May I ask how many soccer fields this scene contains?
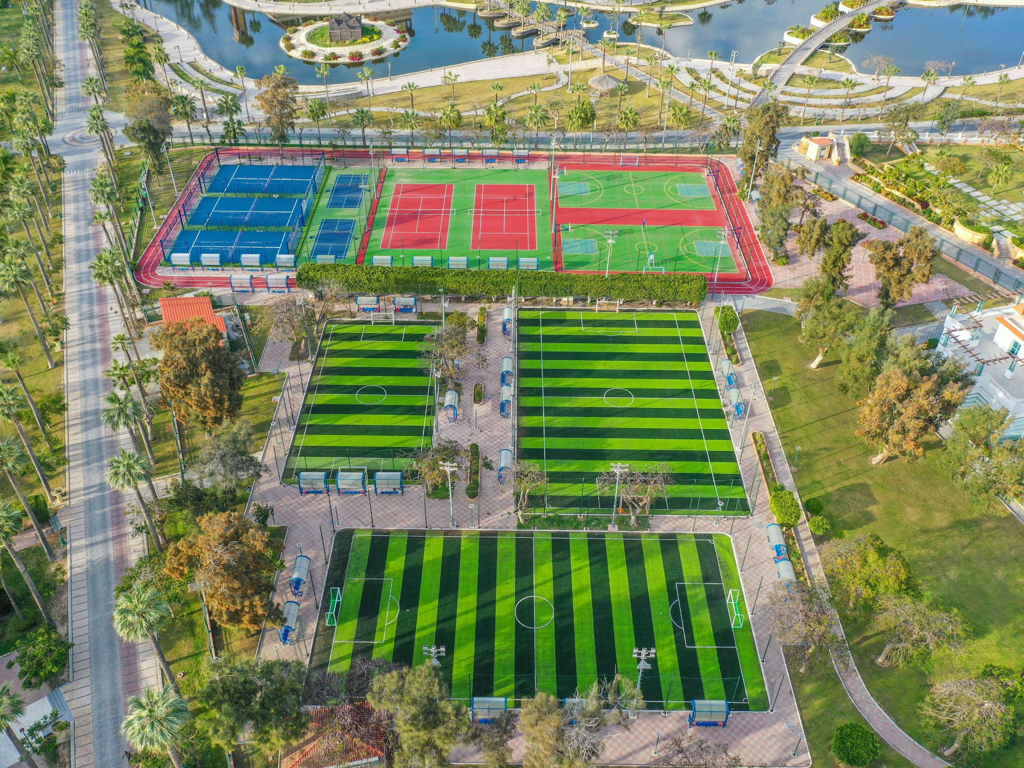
3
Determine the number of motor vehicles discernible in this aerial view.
zero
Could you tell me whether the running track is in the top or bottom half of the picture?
top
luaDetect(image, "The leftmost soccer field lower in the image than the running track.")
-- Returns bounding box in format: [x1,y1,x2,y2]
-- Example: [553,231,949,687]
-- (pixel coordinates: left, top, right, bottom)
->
[279,318,444,487]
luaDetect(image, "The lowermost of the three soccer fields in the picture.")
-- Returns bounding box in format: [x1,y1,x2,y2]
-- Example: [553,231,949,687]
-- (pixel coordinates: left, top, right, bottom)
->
[300,527,771,712]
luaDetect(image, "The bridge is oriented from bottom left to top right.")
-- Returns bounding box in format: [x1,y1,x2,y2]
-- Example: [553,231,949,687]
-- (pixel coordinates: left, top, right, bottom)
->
[738,0,911,109]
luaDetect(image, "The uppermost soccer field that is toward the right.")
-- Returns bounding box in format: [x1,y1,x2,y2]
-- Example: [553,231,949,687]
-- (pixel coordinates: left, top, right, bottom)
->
[516,306,751,517]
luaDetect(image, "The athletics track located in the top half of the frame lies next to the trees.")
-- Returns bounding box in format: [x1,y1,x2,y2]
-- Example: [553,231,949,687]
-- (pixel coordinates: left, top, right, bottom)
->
[133,148,776,295]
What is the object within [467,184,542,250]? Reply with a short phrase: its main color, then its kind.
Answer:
red tennis court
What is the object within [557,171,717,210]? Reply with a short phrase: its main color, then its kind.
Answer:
green basketball court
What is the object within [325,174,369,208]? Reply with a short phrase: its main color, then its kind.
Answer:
blue sports court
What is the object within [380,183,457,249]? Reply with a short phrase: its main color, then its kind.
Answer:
red tennis court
